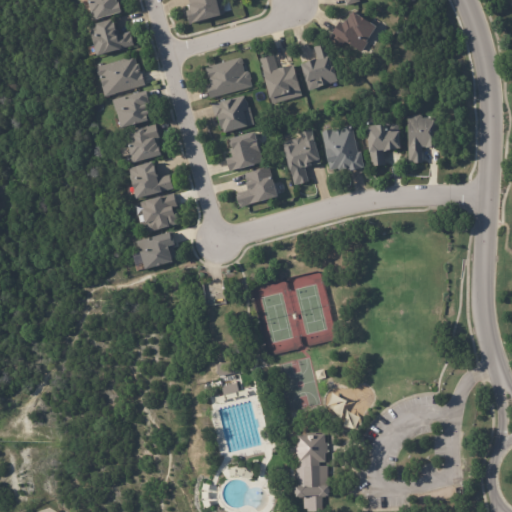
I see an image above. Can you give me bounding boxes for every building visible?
[92,20,134,54]
[295,434,330,512]
[206,60,252,96]
[408,114,434,163]
[138,232,174,268]
[218,98,254,132]
[302,46,337,92]
[261,56,302,104]
[113,94,148,126]
[227,134,260,170]
[238,166,277,206]
[184,0,220,23]
[130,126,160,162]
[130,162,174,198]
[333,12,376,50]
[98,60,145,95]
[322,126,362,172]
[286,131,320,186]
[141,194,178,232]
[369,125,400,166]
[223,384,240,398]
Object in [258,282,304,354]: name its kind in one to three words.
tennis court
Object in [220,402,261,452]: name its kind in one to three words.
swimming pool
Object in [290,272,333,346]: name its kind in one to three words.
tennis court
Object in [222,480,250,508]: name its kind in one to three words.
swimming pool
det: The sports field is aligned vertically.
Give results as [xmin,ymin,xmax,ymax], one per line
[366,221,447,394]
